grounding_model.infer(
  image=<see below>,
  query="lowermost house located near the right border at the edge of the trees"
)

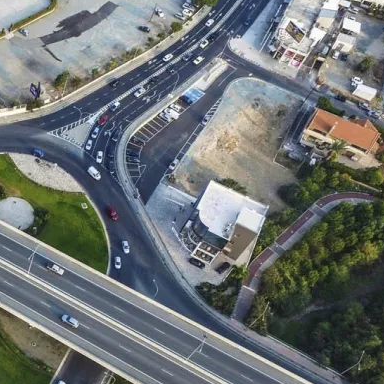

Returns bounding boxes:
[296,107,384,165]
